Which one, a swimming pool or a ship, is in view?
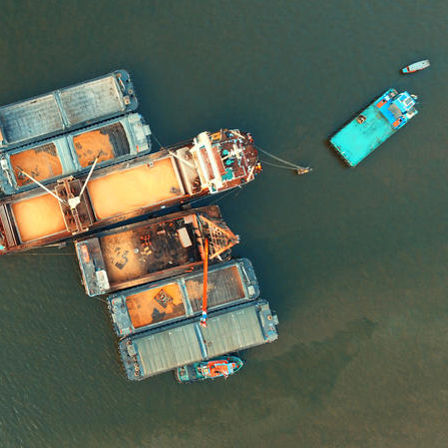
ship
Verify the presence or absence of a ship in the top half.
Yes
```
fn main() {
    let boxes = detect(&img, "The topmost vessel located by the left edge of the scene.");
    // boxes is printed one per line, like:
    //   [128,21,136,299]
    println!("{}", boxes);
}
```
[0,70,138,152]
